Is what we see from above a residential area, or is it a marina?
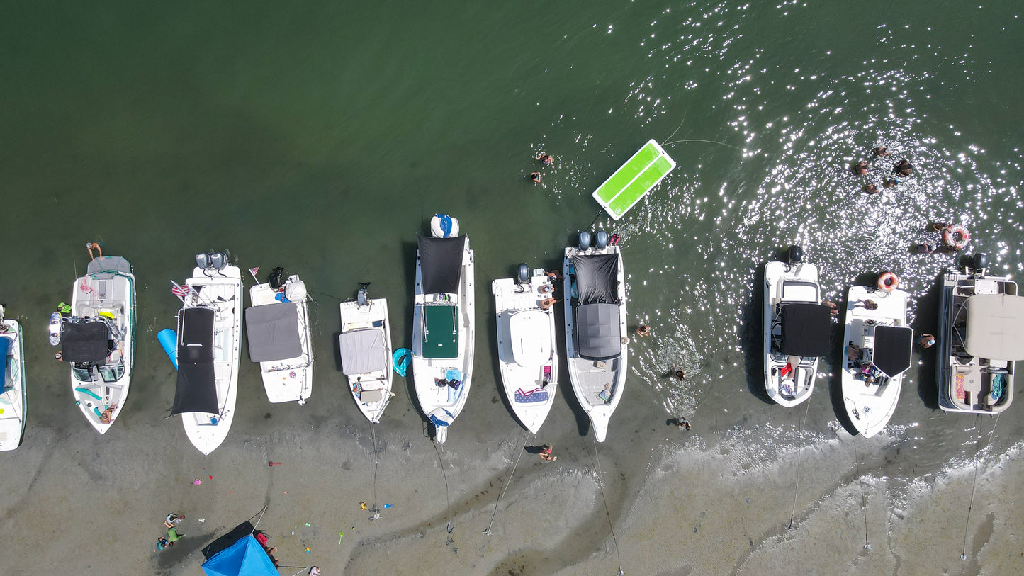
marina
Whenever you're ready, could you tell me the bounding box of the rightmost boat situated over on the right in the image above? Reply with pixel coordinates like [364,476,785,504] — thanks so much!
[937,253,1024,418]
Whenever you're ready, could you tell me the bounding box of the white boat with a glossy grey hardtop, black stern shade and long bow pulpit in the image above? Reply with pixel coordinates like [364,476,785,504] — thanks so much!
[563,231,628,441]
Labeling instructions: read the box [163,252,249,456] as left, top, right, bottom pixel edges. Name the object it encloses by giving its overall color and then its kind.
white boat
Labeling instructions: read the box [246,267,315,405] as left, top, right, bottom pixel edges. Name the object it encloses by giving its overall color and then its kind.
white boat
